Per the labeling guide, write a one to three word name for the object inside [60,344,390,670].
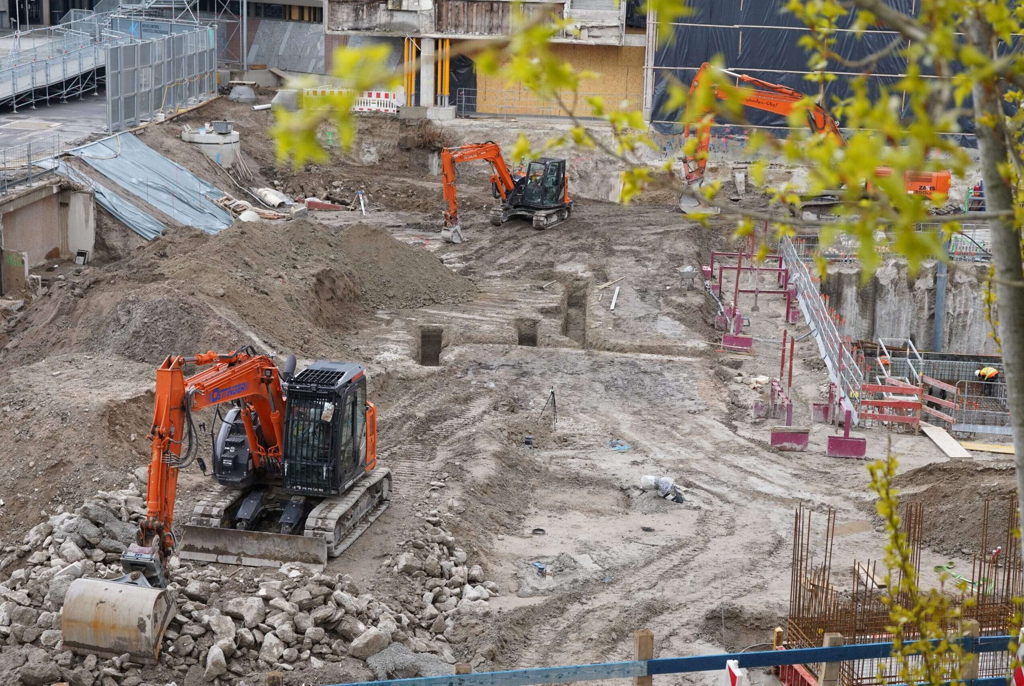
work vehicle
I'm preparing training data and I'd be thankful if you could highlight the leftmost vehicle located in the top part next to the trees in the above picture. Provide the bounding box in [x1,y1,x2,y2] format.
[434,140,575,243]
